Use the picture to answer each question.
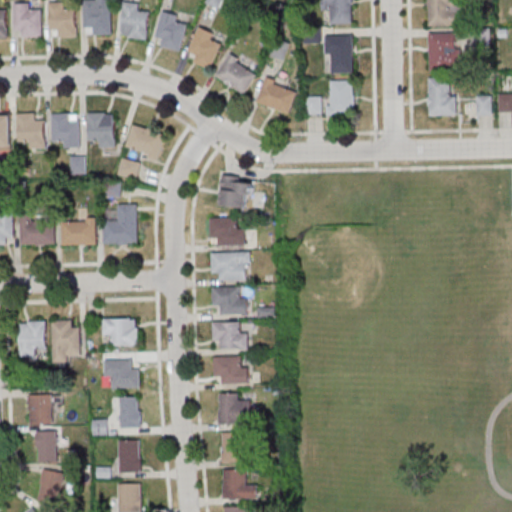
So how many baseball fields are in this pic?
1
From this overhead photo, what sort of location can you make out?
residential area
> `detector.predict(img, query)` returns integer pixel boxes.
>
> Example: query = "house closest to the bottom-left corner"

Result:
[38,468,64,504]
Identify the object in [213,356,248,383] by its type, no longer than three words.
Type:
house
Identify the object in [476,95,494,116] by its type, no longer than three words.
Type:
building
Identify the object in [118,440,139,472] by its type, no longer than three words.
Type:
house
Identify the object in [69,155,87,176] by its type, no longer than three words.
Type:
building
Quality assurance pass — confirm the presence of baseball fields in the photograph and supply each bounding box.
[298,221,392,313]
